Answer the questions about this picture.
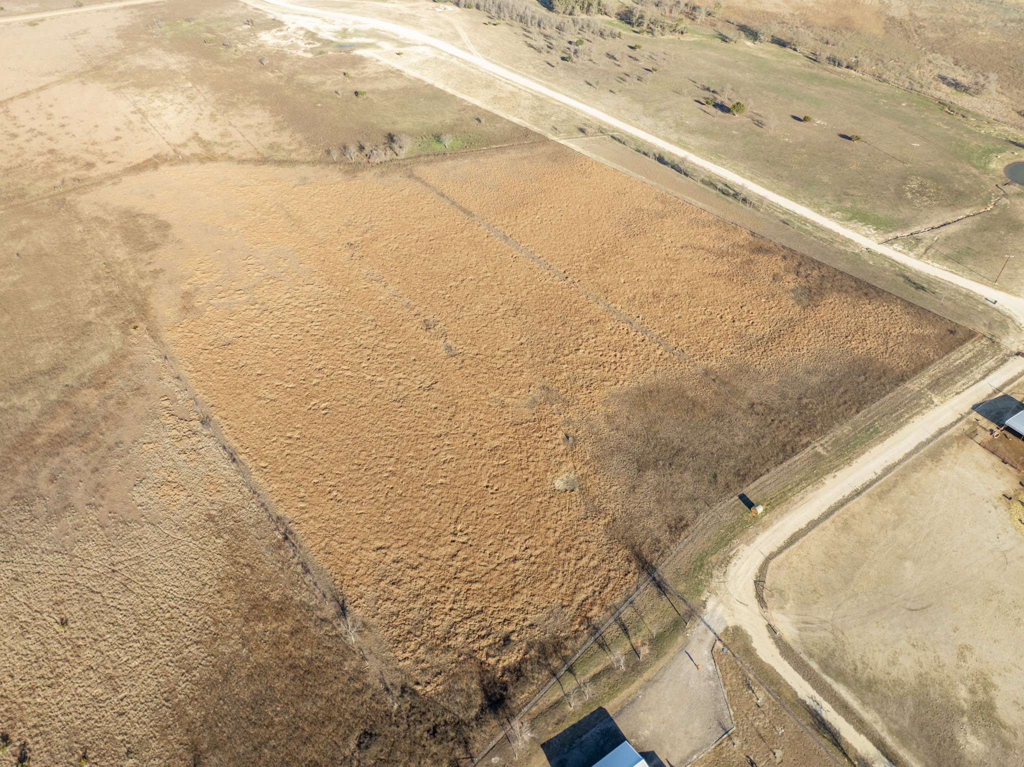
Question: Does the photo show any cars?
No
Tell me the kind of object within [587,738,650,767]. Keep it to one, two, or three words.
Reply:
barn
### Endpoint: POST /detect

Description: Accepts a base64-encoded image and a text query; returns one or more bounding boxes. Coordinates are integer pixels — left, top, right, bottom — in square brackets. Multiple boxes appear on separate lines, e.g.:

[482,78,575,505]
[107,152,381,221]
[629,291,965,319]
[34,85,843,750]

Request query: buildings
[587,738,650,767]
[1000,413,1024,433]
